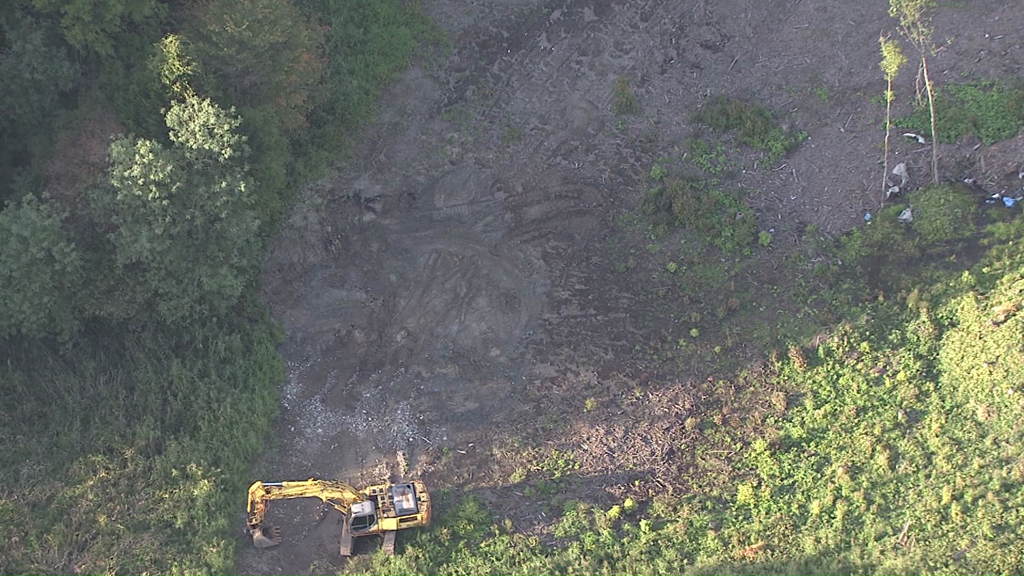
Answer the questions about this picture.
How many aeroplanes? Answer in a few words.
zero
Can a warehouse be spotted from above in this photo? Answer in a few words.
No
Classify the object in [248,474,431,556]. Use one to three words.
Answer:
work vehicle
